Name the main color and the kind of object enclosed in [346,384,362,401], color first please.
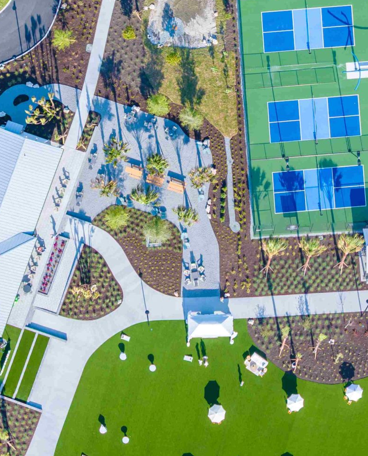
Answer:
white umbrella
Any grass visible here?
Yes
